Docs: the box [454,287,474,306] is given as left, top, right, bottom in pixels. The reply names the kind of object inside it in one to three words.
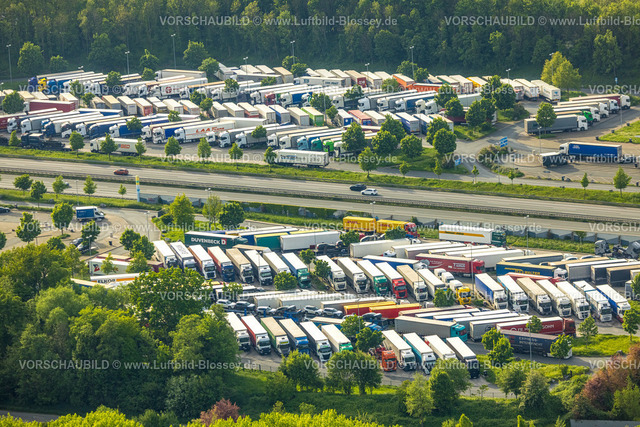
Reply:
vehicle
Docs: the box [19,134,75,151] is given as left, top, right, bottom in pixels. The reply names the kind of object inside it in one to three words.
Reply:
vehicle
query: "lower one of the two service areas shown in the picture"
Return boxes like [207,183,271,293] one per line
[0,199,640,391]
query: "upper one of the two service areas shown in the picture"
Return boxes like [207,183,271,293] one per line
[0,78,640,191]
